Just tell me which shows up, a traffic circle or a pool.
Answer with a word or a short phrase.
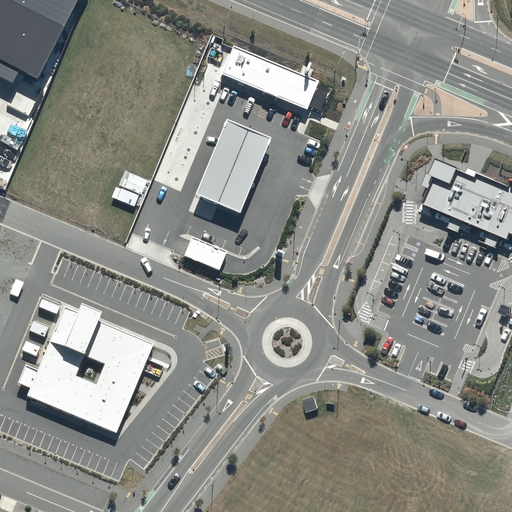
traffic circle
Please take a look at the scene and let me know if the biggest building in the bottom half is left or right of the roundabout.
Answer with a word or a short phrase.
to its left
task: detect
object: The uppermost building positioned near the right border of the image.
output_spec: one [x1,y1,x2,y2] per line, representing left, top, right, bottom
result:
[422,160,512,250]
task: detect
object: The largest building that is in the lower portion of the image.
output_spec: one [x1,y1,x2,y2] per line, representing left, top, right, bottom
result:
[28,304,153,434]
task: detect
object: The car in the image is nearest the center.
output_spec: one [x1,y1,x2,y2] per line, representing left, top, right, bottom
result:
[234,229,248,244]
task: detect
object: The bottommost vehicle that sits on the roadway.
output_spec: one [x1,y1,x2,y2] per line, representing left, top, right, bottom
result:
[168,474,180,490]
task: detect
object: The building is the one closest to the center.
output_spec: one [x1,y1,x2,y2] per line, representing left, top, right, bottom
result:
[185,238,227,272]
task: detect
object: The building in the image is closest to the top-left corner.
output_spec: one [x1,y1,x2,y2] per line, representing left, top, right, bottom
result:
[0,0,80,85]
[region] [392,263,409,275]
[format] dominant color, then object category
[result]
white vehicle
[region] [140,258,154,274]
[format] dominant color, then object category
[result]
white vehicle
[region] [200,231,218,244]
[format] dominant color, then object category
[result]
gray vehicle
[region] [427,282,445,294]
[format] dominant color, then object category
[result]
gray vehicle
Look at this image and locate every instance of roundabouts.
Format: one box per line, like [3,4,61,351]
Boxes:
[244,298,332,386]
